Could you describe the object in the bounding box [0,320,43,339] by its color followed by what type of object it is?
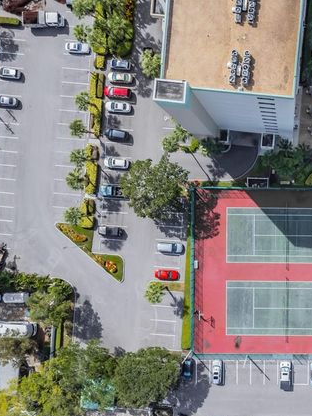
white vehicle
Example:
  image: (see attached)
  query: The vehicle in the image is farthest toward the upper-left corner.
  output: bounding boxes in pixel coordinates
[20,12,64,29]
